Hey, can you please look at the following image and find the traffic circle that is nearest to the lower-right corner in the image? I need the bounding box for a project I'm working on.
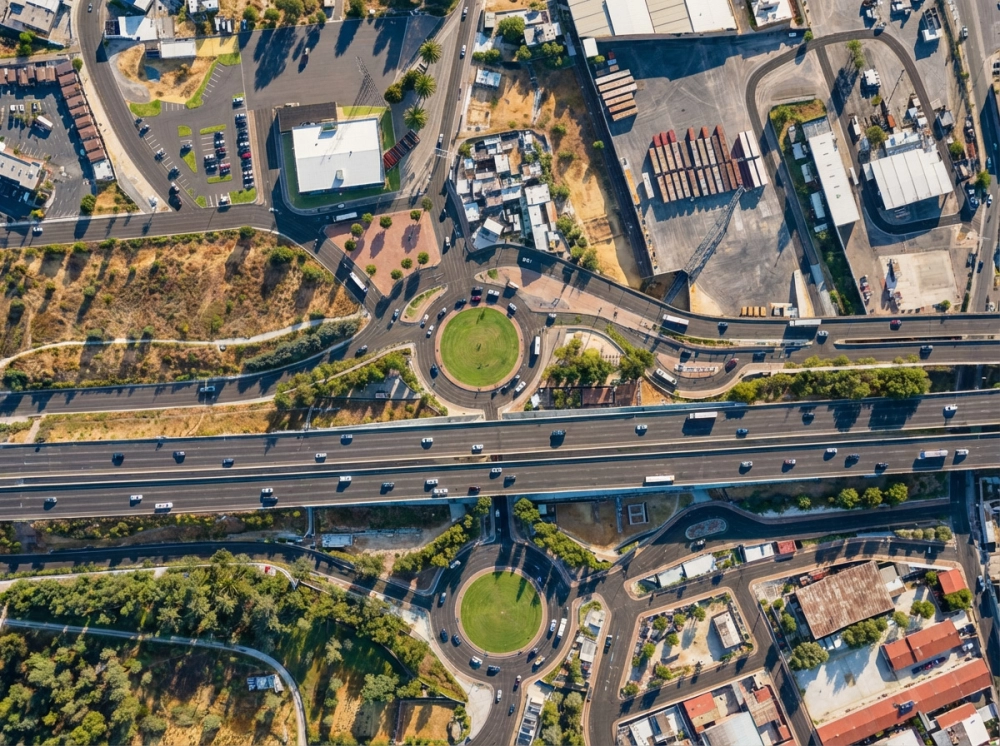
[433,543,570,682]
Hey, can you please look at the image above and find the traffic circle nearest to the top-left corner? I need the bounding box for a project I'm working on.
[414,281,546,413]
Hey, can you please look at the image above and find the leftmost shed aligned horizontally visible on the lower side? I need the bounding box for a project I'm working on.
[244,674,277,689]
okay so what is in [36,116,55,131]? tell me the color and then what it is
white vehicle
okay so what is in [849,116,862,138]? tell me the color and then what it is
white vehicle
